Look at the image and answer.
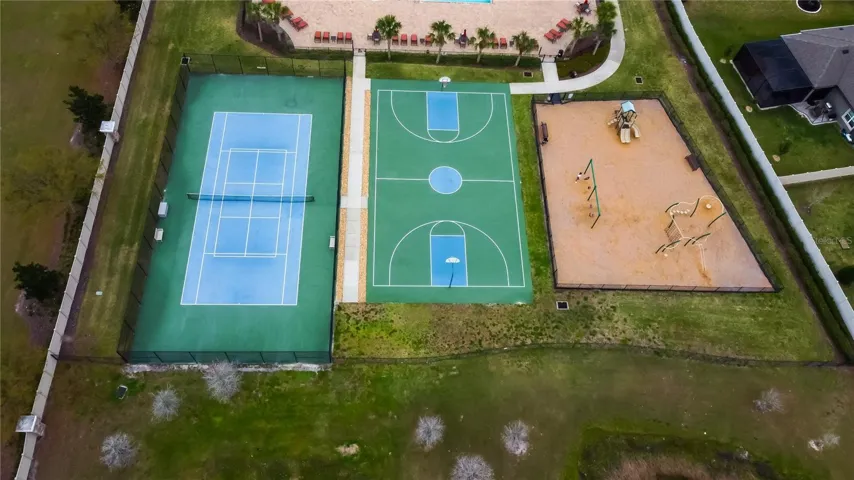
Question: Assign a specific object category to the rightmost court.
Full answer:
It looks like the rightmost court is a basketball court.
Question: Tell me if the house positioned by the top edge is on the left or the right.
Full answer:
You can find the house positioned by the top edge on the right side of the picture.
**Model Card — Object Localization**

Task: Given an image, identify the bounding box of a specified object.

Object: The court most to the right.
[365,79,532,305]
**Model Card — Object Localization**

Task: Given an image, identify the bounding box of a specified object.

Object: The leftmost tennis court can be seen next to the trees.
[128,76,343,363]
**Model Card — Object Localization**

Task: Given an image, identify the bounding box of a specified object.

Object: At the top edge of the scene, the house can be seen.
[727,22,854,143]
